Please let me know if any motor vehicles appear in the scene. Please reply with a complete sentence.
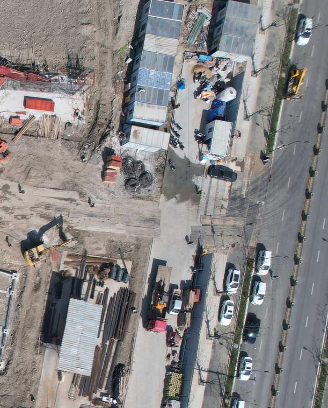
Yes, looking at the shot, I can spot a motor vehicle.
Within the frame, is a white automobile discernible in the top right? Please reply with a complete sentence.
Yes, in the top right there is a white automobile.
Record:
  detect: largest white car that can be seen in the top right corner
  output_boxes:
[296,17,312,46]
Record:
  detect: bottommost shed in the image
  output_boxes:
[46,299,104,376]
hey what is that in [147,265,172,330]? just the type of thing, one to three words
truck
